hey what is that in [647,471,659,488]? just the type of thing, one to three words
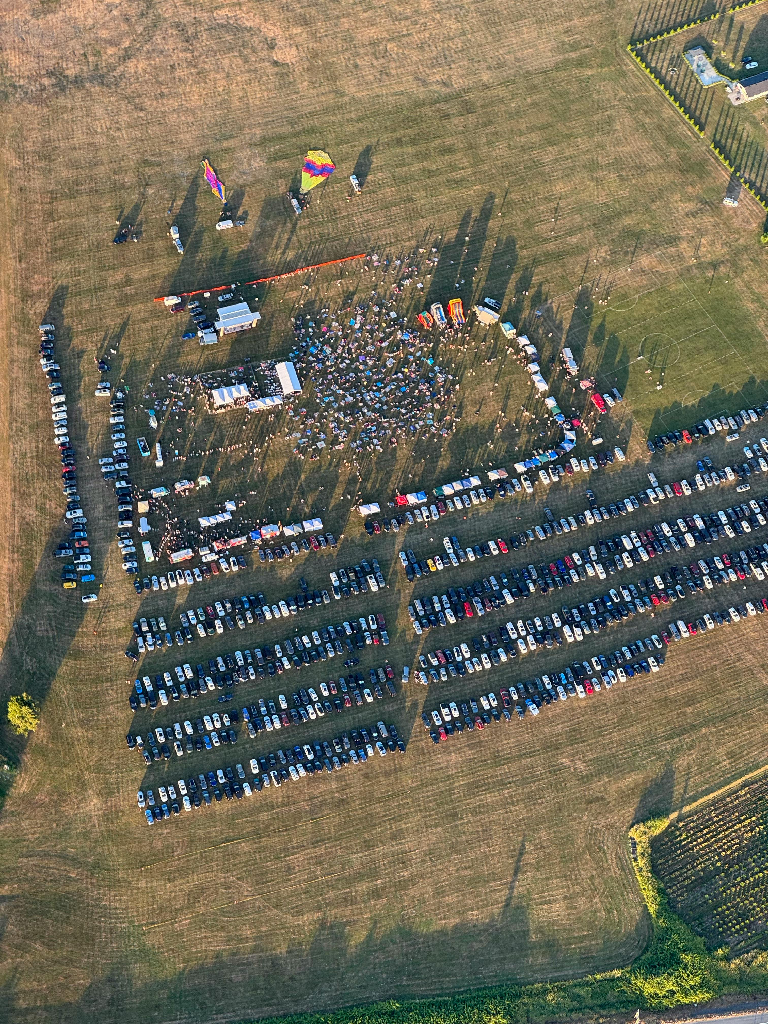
vehicle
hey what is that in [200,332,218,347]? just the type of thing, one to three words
vehicle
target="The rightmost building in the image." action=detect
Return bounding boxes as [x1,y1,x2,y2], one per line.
[736,70,768,103]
